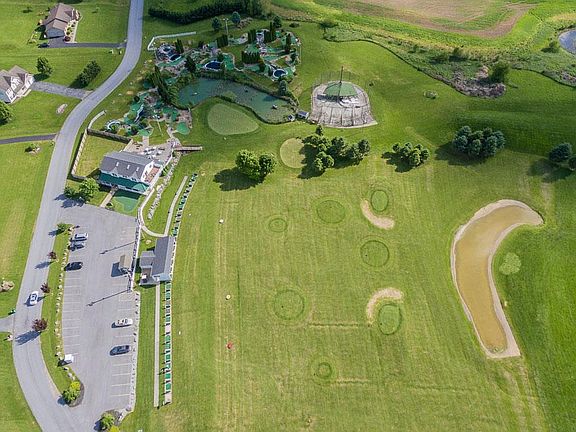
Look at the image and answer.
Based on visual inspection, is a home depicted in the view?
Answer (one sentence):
Yes, you can see a home in this photo.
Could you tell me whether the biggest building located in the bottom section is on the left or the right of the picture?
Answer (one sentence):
The biggest building located in the bottom section is on the left side of the image.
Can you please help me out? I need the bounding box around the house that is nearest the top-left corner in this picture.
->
[43,2,79,40]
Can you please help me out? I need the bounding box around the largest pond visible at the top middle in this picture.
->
[179,79,295,124]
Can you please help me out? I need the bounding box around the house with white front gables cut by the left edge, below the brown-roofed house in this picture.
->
[0,66,36,105]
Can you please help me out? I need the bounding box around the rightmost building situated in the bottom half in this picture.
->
[140,235,180,288]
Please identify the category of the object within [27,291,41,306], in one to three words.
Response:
car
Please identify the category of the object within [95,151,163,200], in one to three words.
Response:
building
